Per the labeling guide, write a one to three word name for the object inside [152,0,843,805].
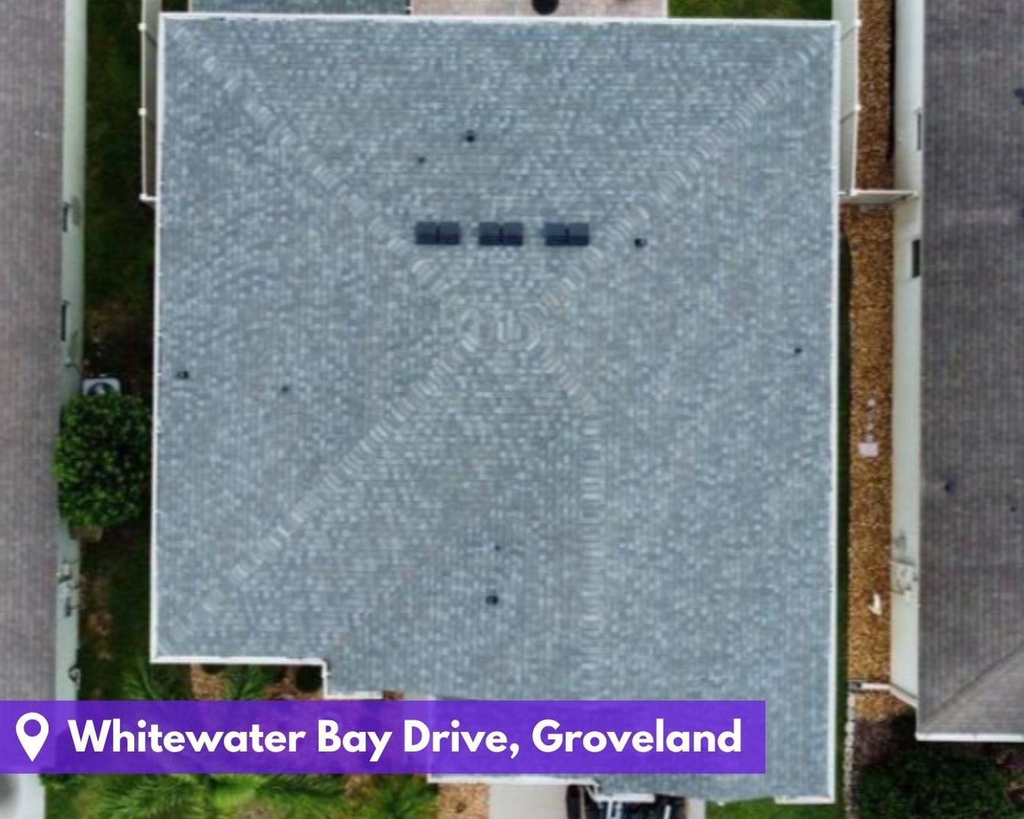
house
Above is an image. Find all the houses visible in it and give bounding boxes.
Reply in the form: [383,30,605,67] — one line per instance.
[846,0,1024,741]
[0,0,92,770]
[152,0,843,805]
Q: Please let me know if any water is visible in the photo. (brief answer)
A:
No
